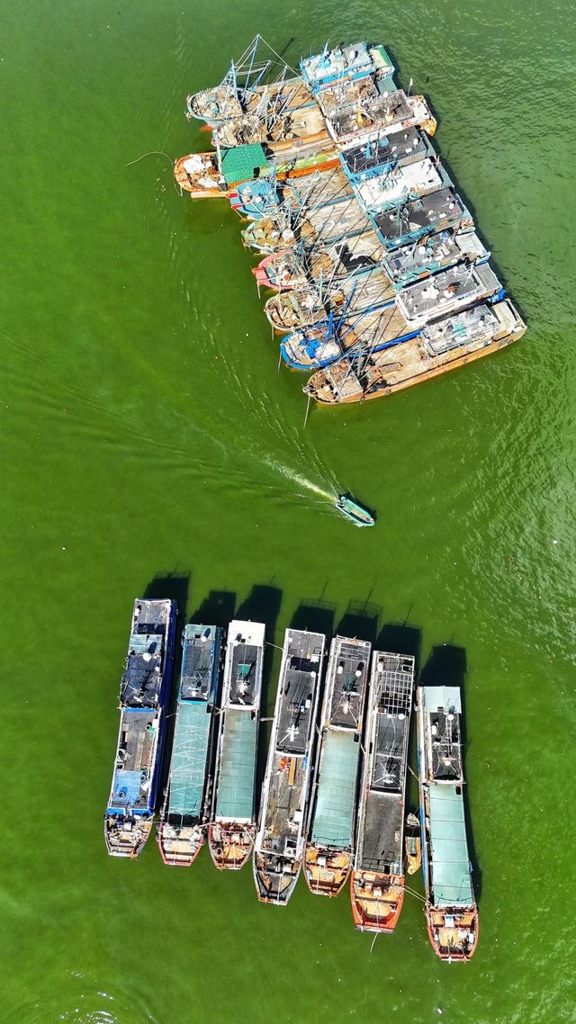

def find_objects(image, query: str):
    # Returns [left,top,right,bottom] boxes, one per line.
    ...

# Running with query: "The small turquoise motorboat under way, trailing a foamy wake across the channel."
[334,492,373,525]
